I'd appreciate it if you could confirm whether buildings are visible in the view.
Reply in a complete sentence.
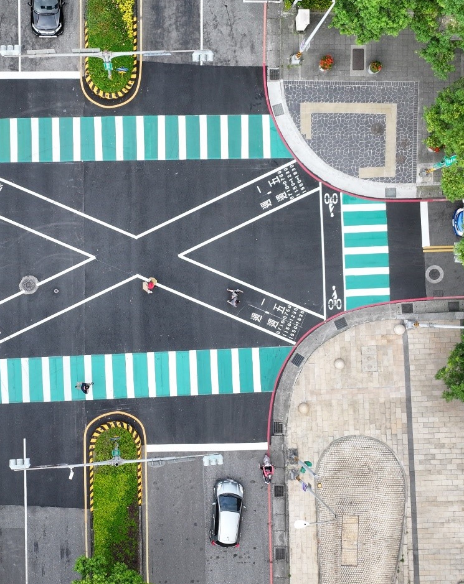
No, there appears to be no building in this shot.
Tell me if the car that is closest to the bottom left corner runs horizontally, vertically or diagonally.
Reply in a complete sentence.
The car that is closest to the bottom left corner runs vertically in the image.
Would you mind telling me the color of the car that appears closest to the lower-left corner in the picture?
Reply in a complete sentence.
The car that appears closest to the lower-left corner looks white in the image.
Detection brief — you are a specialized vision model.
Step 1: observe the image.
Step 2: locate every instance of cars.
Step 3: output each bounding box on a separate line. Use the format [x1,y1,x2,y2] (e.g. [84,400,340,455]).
[209,475,246,549]
[453,208,464,235]
[28,0,67,35]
